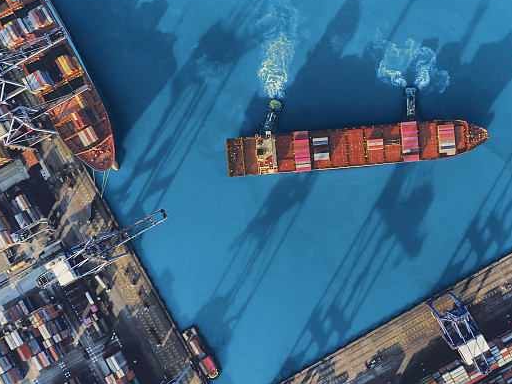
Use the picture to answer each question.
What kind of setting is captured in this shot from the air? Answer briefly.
port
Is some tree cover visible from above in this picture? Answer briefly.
No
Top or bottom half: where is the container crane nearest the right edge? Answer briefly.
bottom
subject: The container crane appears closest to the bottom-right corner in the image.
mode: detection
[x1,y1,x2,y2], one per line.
[425,290,492,375]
